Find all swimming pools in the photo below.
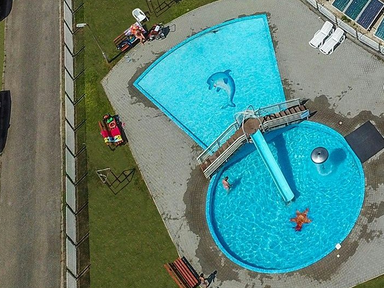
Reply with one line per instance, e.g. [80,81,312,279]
[135,14,285,159]
[207,120,367,274]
